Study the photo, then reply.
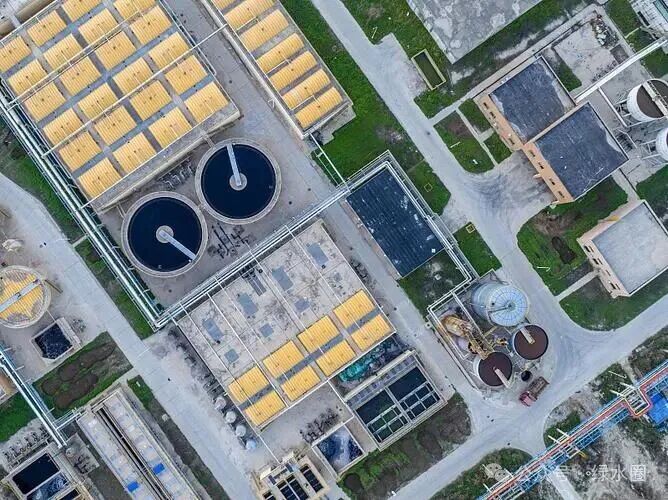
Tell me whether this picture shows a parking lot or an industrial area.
industrial area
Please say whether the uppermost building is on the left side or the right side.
right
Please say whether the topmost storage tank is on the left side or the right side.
right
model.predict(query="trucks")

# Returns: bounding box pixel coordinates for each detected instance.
[521,378,553,409]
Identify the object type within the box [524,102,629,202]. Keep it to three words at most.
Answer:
building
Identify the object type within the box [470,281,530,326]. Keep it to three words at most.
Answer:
storage tank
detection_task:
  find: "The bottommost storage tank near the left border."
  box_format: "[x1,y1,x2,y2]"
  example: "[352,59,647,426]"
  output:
[0,265,57,328]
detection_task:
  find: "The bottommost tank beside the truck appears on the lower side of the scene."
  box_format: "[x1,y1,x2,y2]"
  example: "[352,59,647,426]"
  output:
[472,348,512,392]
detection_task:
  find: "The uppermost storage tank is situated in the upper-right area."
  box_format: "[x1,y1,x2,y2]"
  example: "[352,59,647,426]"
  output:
[610,77,668,127]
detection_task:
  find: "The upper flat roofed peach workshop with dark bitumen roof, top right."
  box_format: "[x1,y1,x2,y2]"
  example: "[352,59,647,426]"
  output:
[481,56,585,149]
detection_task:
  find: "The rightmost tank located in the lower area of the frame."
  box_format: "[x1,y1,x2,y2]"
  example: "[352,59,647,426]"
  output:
[506,321,549,360]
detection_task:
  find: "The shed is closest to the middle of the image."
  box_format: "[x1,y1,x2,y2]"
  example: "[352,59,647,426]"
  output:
[346,168,446,278]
